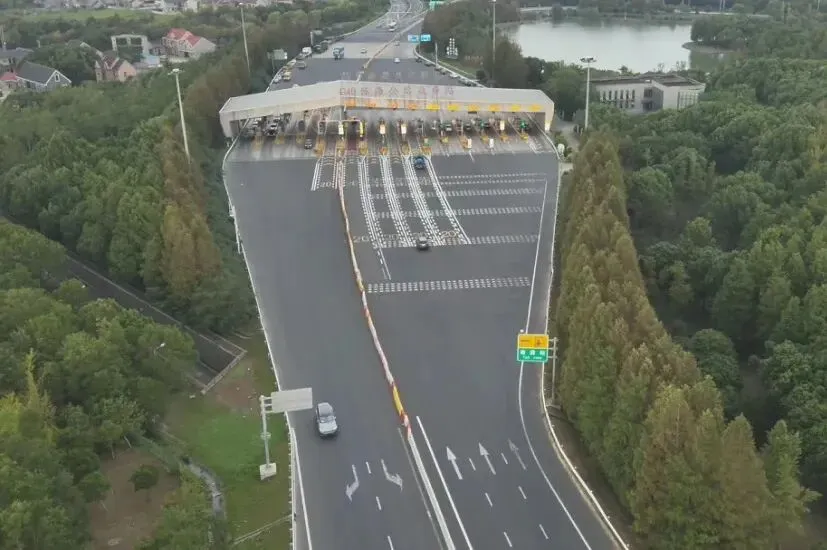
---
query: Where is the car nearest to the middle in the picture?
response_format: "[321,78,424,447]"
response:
[416,237,430,250]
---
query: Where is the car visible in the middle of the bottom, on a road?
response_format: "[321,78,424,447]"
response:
[316,404,338,438]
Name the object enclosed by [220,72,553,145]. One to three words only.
toll station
